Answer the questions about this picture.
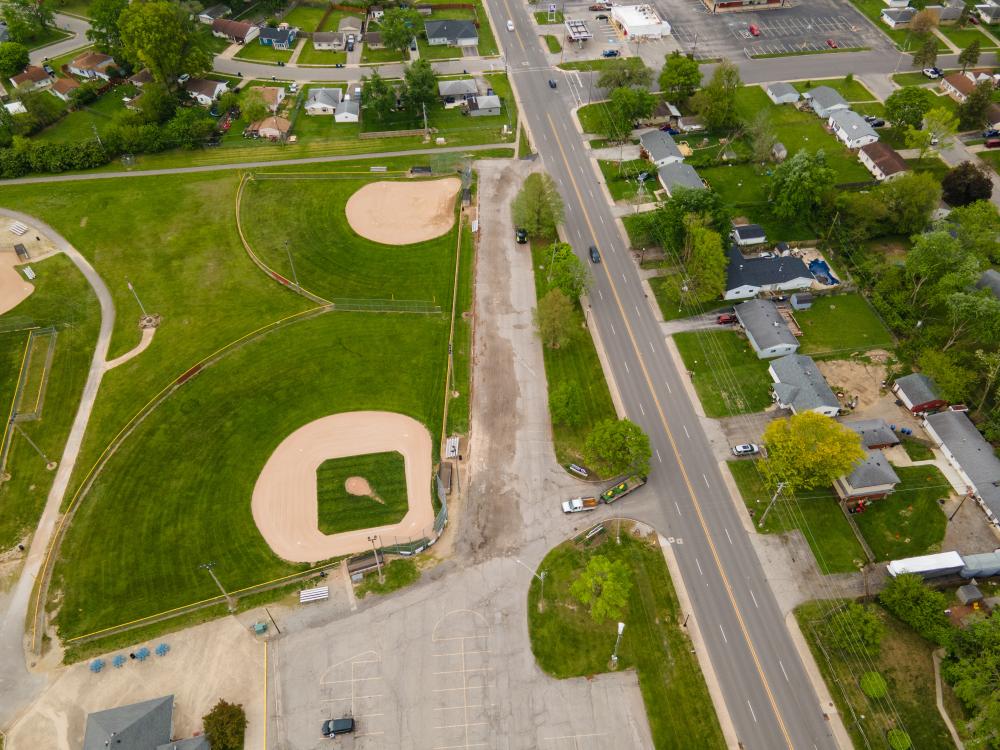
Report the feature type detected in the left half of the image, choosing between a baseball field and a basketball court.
baseball field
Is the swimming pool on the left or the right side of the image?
right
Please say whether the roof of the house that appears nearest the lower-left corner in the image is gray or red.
gray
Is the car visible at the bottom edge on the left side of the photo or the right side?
left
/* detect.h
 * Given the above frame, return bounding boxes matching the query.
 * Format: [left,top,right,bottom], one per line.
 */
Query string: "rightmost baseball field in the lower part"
[47,306,450,651]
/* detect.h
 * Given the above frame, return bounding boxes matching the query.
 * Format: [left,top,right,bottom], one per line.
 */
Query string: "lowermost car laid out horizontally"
[318,716,351,735]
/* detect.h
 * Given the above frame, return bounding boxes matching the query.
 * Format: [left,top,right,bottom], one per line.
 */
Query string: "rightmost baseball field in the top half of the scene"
[243,174,467,306]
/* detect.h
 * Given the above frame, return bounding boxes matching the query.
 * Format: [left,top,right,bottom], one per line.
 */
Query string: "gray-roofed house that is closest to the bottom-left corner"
[76,688,206,750]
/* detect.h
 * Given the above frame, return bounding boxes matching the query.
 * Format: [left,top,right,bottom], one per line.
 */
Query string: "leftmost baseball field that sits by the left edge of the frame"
[0,243,36,451]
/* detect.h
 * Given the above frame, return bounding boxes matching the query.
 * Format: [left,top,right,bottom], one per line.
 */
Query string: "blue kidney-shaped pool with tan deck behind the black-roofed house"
[802,251,842,292]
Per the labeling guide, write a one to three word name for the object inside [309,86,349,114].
house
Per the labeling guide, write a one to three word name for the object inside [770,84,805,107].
building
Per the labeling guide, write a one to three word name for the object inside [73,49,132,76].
house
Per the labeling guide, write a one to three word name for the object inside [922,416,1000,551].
shed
